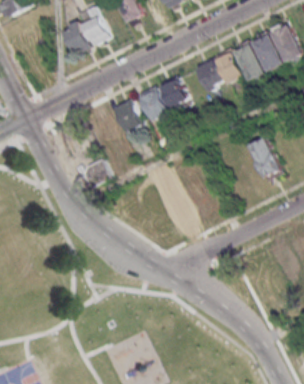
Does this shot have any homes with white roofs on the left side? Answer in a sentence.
Yes, looking on the left side, one can make out a home with a white roof.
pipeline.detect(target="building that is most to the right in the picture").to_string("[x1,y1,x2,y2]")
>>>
[268,22,302,62]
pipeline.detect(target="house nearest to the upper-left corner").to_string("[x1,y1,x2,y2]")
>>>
[0,0,38,20]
